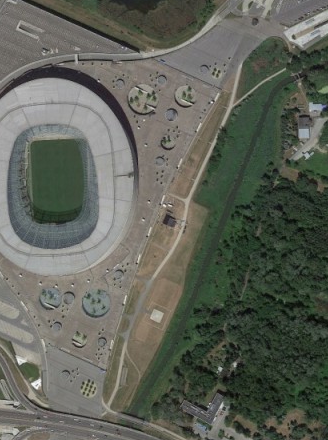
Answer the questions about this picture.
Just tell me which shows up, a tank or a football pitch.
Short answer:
football pitch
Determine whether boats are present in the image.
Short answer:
No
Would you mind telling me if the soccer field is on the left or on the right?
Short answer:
left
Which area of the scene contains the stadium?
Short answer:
left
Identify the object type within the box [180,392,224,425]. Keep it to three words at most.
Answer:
building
